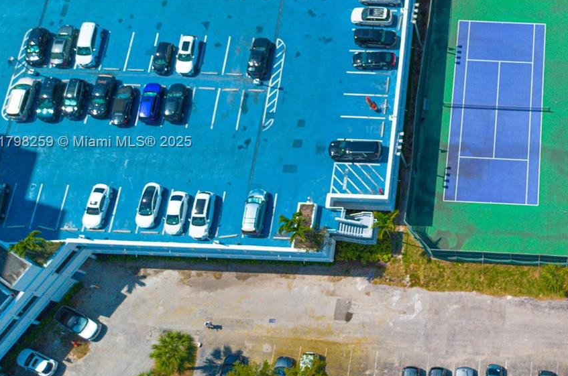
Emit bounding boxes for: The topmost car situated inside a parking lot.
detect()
[54,308,102,338]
